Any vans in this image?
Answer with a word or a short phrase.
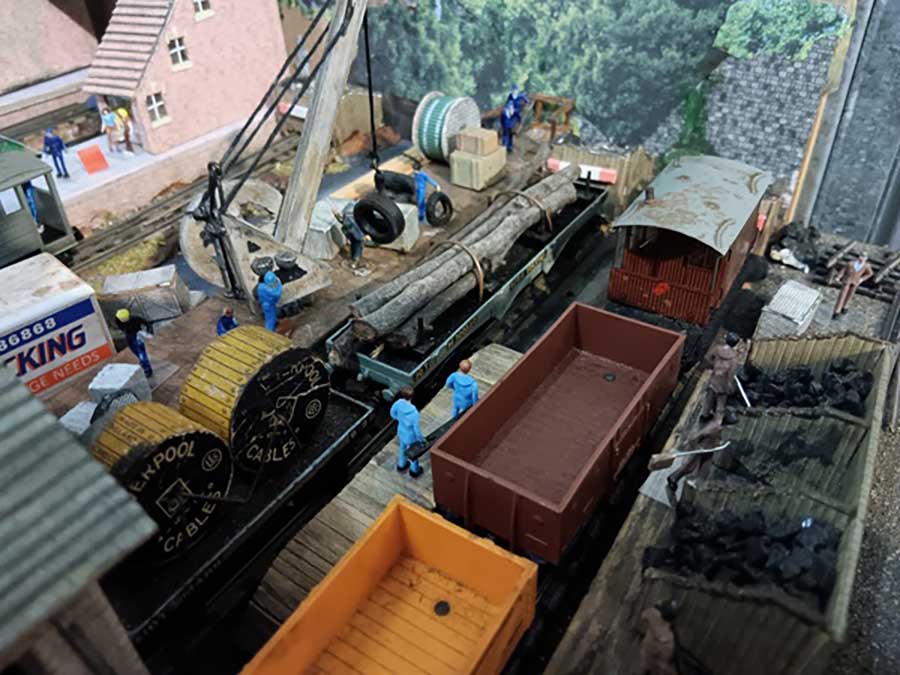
Yes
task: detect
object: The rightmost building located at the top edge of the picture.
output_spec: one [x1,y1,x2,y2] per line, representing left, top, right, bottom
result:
[74,0,291,153]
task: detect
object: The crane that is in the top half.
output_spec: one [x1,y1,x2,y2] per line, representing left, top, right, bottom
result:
[167,0,380,324]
